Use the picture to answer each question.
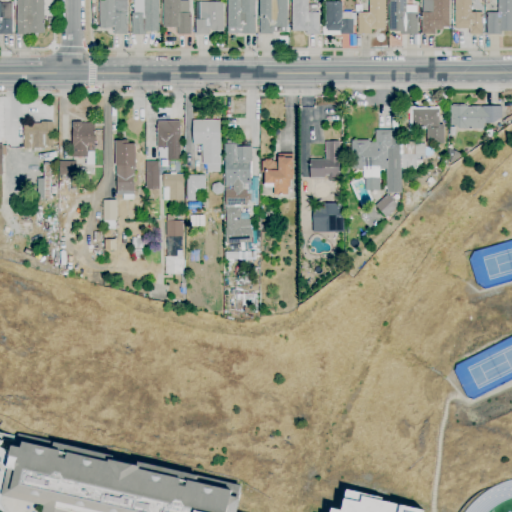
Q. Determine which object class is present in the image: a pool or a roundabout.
pool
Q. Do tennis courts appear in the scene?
Yes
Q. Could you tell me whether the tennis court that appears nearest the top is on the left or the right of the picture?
right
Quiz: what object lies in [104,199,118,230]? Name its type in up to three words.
barn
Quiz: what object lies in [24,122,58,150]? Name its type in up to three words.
building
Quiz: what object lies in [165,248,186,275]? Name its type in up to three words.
shed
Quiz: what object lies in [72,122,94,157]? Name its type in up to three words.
house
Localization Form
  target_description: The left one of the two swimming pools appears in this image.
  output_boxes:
[308,235,333,256]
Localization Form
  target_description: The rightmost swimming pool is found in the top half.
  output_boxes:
[352,178,372,203]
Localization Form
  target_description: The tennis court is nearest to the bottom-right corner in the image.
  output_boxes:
[454,334,512,399]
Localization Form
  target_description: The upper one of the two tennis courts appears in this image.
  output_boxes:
[470,240,512,288]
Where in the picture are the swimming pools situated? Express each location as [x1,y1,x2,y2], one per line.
[308,235,333,256]
[352,178,372,203]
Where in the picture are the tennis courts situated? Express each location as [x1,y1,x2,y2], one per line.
[454,334,512,399]
[470,240,512,288]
